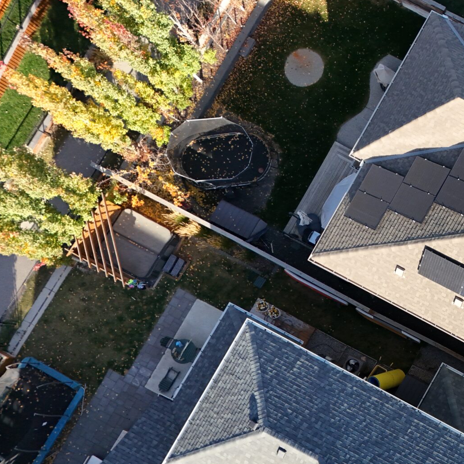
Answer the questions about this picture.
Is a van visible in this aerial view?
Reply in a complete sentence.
No, there isn't any van down there.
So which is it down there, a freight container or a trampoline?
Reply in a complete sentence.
Looking from above, you can make out a trampoline.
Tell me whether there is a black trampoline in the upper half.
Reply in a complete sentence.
Yes, looking in the upper half, one can make out a black trampoline.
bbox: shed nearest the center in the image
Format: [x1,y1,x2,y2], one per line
[212,197,268,243]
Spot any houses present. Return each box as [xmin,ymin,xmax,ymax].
[111,301,464,464]
[306,8,464,345]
